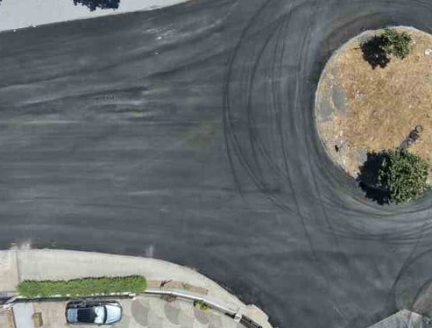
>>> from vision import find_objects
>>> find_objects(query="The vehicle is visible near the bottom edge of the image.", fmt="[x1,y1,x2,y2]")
[65,297,124,327]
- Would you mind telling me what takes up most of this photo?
paved ground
